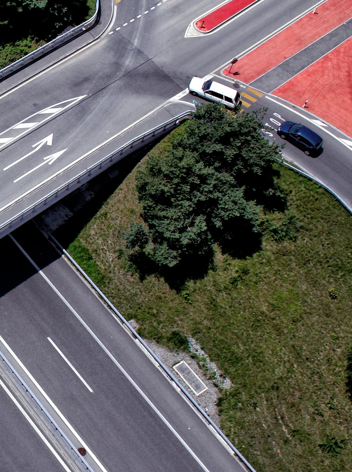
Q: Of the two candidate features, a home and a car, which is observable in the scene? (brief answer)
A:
car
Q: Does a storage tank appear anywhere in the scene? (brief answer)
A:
No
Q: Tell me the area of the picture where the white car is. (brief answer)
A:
top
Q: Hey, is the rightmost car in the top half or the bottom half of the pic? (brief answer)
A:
top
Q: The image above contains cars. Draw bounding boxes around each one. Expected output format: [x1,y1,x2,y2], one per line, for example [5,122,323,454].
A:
[186,77,239,108]
[278,121,328,158]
